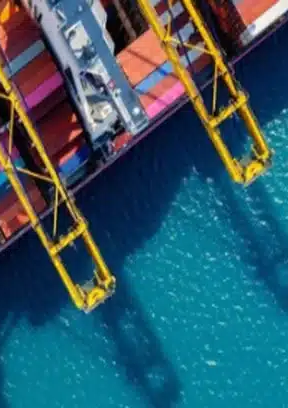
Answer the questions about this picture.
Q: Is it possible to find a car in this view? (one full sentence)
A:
No, the frame has no car in it.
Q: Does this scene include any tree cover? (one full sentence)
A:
No, the picture contains no tree cover.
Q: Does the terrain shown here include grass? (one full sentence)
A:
No, grass can't be seen anywhere here.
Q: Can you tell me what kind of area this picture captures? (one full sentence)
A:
This image shows a port.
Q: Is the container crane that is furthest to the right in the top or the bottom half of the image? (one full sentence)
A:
Seen from above, the container crane that is furthest to the right lies in the top half of the view.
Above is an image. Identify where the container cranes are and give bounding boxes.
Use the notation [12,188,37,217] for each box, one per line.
[145,0,284,192]
[0,33,124,317]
